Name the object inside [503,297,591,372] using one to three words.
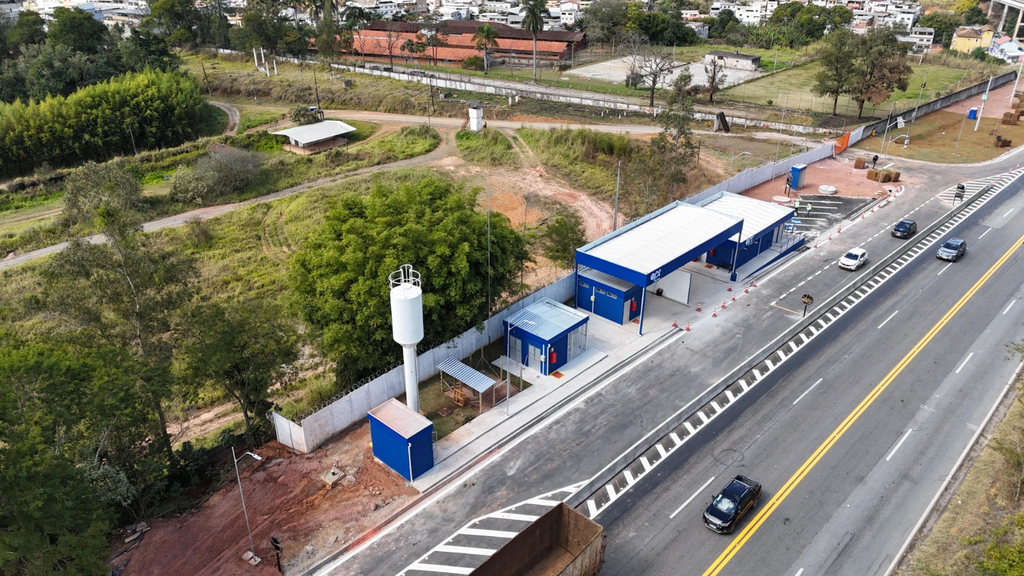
shed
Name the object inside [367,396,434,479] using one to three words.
shed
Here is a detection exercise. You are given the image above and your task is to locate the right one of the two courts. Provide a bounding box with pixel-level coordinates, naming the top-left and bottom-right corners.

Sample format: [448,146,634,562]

[643,62,750,91]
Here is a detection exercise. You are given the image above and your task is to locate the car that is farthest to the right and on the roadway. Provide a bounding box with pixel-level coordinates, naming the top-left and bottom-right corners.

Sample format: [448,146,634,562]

[938,235,970,261]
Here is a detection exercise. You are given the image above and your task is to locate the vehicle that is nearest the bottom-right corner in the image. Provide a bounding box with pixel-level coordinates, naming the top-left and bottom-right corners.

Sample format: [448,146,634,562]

[703,471,768,531]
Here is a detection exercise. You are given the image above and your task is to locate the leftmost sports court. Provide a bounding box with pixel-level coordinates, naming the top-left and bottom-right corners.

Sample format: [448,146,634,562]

[566,56,687,86]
